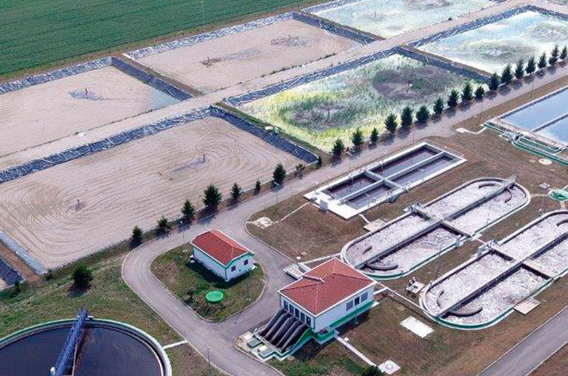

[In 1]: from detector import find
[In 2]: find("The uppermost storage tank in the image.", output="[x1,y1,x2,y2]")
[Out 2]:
[303,139,469,220]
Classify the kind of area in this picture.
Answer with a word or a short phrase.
industrial area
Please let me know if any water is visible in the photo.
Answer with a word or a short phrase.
Yes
